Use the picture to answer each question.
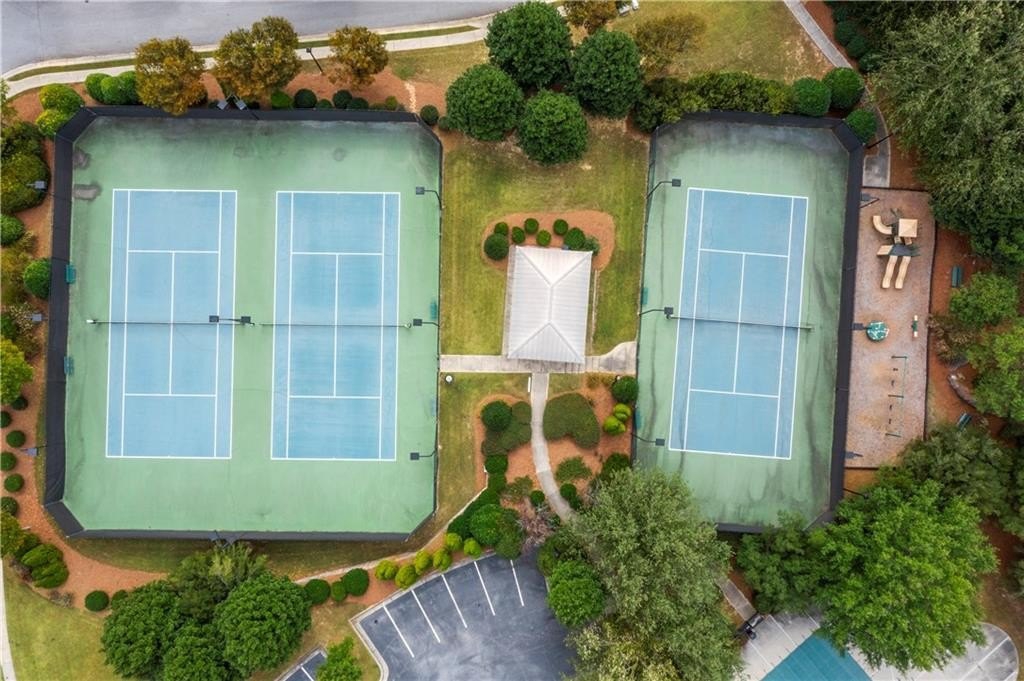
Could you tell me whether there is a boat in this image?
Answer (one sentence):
No, no boat is visible in the view.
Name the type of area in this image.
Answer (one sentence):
This image shows a sports ground.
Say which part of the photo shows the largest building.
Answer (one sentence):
The largest building is located in the center region of the scene.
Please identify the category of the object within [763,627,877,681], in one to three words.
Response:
swimming pool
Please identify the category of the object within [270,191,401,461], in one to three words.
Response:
tennis court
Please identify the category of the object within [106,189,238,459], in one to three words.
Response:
tennis court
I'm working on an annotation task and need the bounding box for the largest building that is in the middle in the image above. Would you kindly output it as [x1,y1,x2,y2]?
[508,245,593,363]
